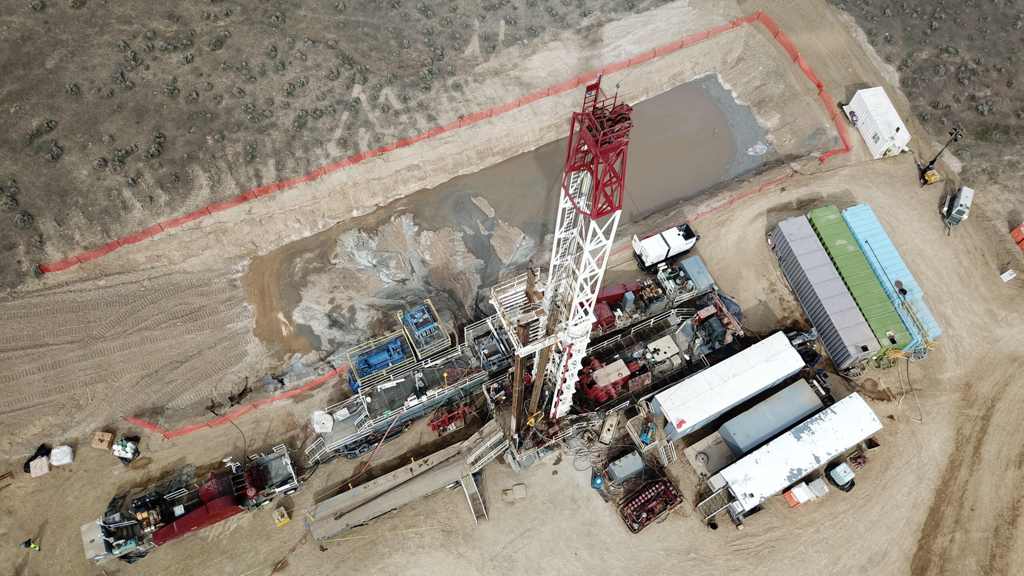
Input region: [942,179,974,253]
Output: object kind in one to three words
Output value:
trailer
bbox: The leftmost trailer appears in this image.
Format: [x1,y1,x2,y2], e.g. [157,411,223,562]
[81,445,302,565]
